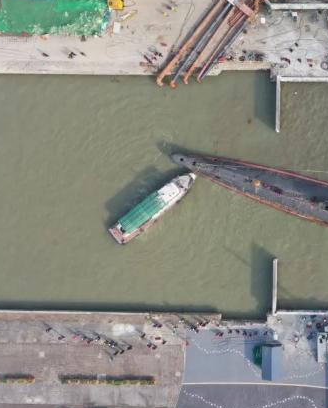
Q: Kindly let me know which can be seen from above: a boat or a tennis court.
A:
boat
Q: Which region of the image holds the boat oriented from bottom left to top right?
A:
center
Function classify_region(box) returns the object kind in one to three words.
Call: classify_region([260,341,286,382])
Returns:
shed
